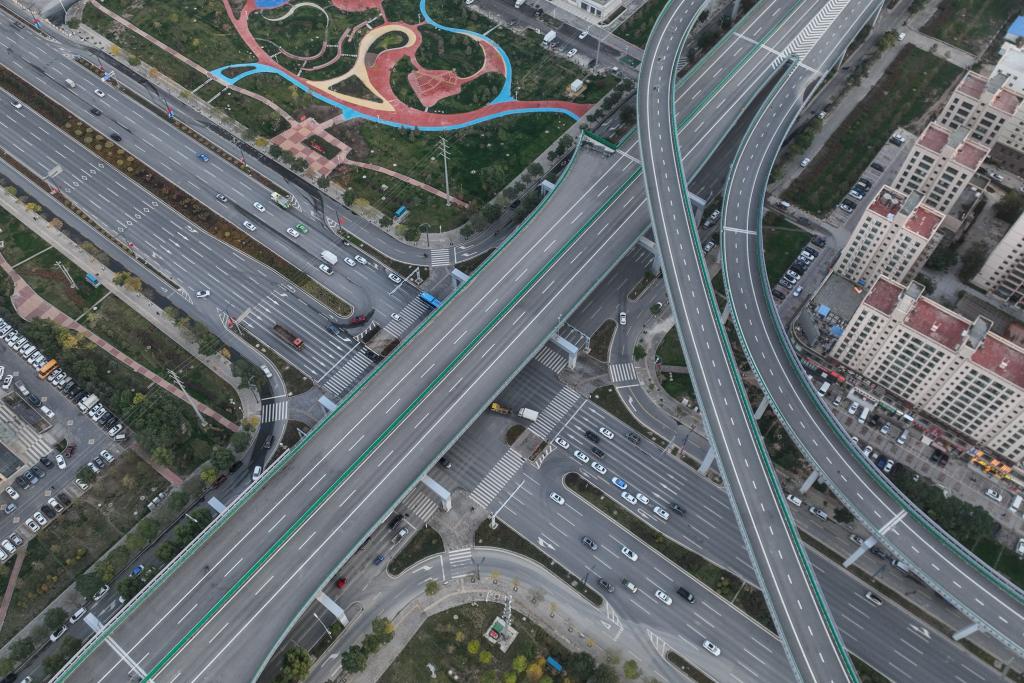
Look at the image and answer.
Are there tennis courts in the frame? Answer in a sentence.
No, there isn't any tennis court down there.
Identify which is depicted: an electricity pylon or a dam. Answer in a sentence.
Looking from above, you can make out an electricity pylon.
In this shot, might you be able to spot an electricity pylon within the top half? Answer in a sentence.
Yes, looking within the top half, one can make out an electricity pylon.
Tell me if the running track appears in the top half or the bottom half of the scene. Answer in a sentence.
The running track sits in the top half of the picture.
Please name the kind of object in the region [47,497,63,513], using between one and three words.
vehicle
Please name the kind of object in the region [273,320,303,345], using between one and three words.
truck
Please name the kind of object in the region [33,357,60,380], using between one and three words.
bus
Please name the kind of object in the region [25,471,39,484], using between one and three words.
vehicle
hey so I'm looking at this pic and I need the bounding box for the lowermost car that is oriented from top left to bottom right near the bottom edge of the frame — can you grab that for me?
[702,640,721,656]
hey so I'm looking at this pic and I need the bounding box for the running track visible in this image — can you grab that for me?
[215,0,578,130]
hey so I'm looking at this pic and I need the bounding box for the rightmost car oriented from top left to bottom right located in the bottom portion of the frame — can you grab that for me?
[984,488,1003,502]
